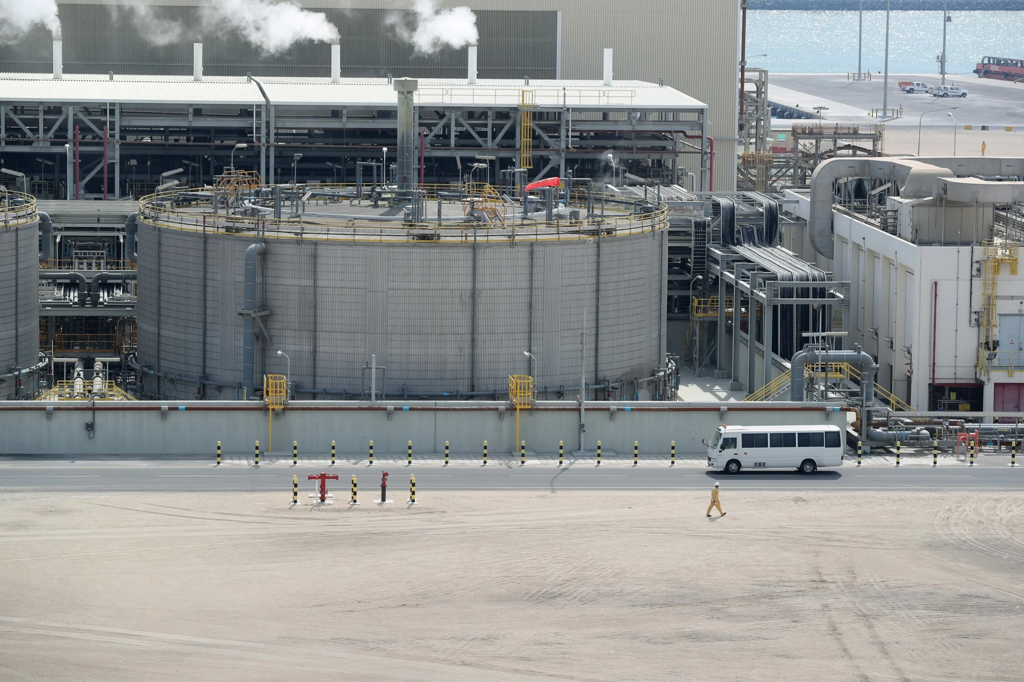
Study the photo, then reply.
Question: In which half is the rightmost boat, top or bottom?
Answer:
top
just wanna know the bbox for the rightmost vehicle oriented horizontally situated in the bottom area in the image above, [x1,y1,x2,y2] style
[696,424,843,474]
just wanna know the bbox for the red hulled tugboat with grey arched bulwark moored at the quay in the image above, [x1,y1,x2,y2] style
[974,48,1024,89]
